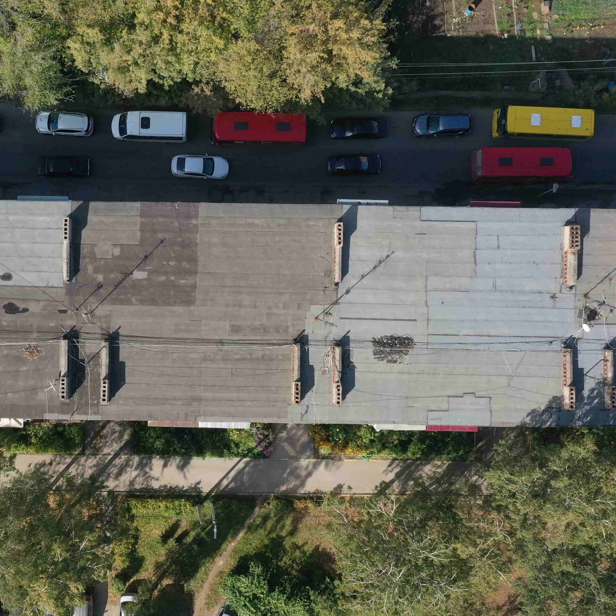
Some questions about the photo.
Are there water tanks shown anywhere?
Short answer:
No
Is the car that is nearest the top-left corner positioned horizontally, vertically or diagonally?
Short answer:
horizontally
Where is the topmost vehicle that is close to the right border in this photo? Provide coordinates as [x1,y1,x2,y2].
[491,105,598,142]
